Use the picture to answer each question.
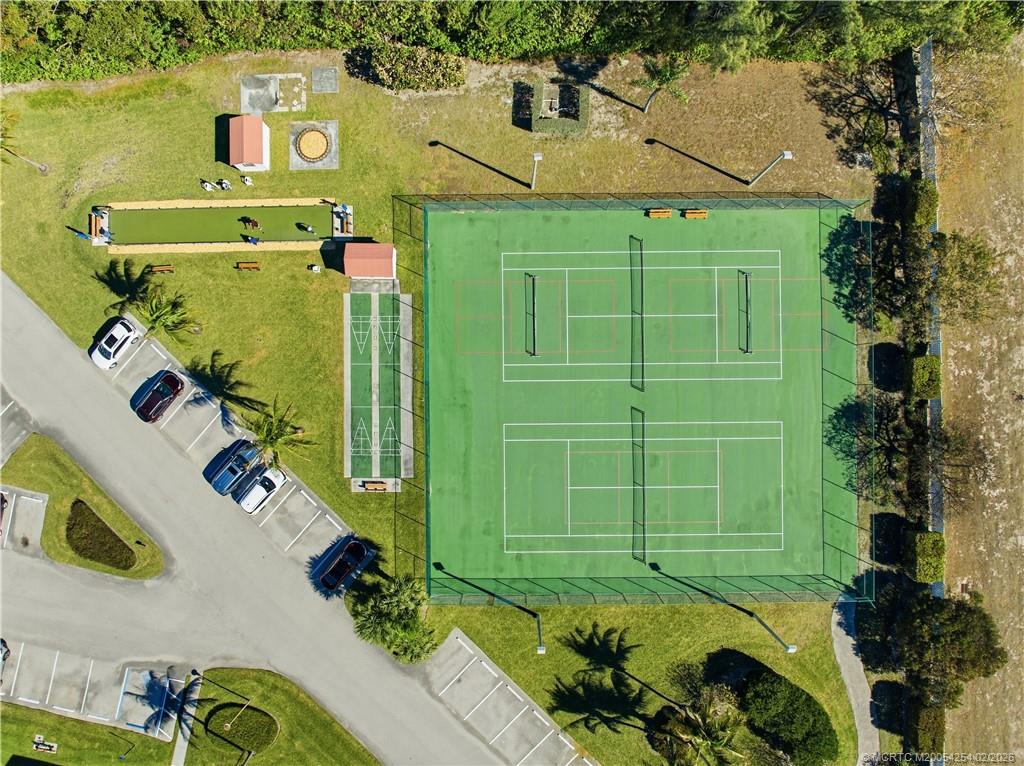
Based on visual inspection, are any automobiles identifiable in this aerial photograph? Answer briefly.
Yes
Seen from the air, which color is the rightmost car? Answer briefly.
black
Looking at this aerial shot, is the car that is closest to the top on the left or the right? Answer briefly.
left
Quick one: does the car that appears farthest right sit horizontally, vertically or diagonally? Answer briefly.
diagonally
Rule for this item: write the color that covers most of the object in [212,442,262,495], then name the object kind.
blue car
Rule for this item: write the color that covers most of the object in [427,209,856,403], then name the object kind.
green tennis court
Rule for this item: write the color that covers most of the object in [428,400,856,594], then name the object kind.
green tennis court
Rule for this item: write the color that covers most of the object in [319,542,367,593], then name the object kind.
black car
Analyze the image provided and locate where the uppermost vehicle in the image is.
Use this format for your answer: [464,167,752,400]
[88,320,138,372]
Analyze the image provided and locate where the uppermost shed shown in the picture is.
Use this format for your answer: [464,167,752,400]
[229,112,270,171]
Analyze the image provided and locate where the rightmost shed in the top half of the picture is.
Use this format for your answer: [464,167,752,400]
[344,243,398,280]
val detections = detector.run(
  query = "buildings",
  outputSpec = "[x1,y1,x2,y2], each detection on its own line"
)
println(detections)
[344,243,398,280]
[229,112,270,171]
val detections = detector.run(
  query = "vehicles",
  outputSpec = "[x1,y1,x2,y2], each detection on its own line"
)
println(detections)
[212,442,262,495]
[319,542,367,593]
[240,467,288,518]
[134,372,184,423]
[0,640,10,685]
[88,320,138,372]
[0,492,8,524]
